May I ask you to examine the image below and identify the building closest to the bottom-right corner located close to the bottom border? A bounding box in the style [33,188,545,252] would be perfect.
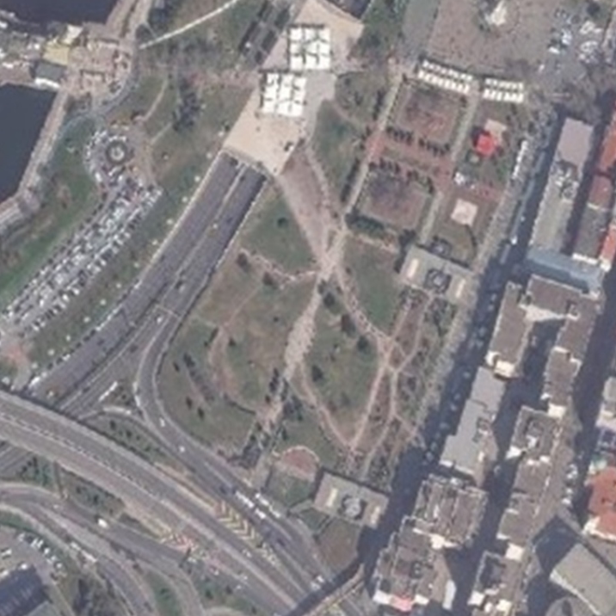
[549,543,616,616]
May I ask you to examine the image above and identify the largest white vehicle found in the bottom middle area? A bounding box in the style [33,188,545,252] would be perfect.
[233,489,256,507]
